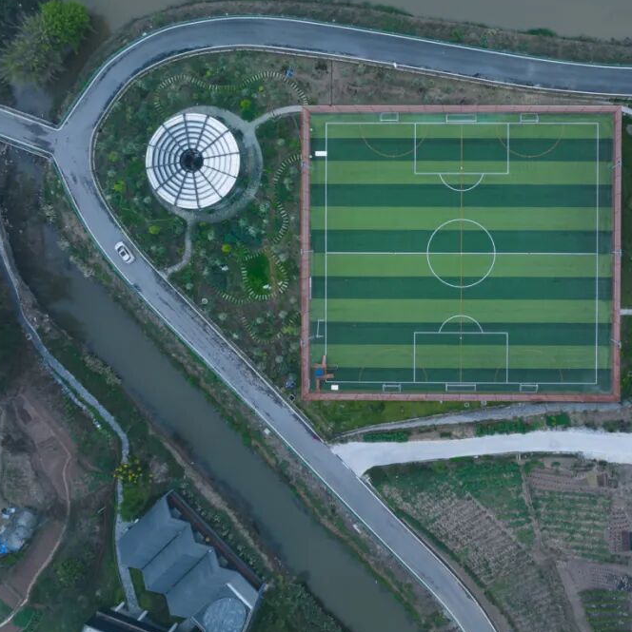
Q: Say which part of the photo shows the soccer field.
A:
right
